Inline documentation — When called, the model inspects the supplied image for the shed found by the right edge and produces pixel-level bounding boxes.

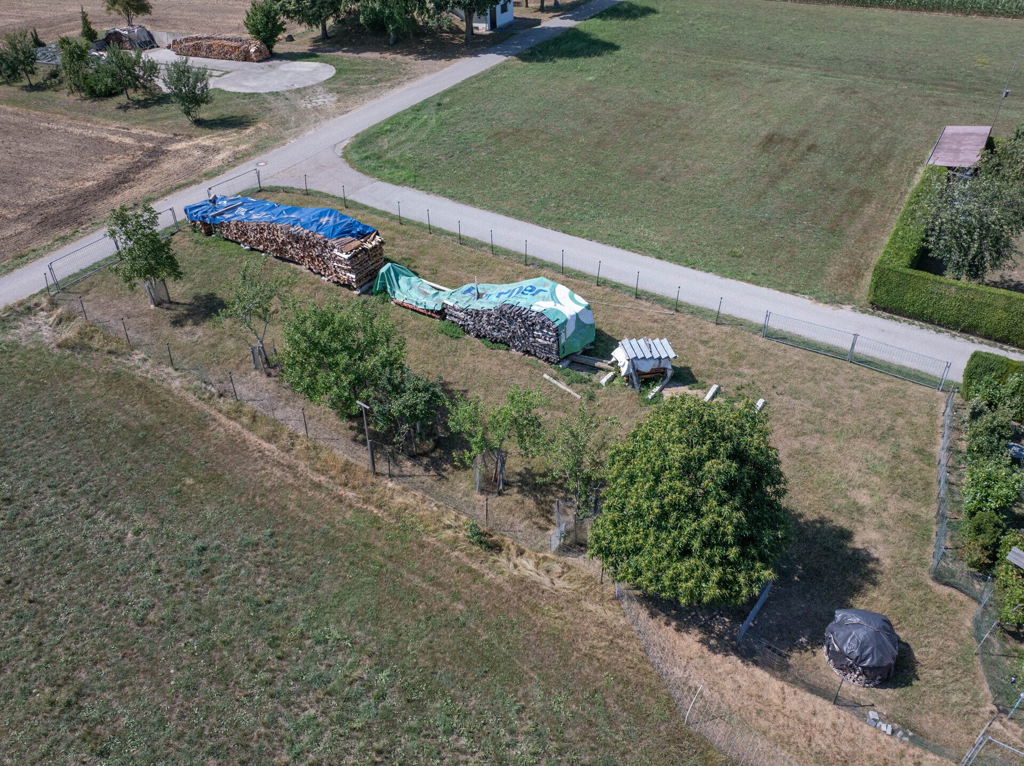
[918,126,991,192]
